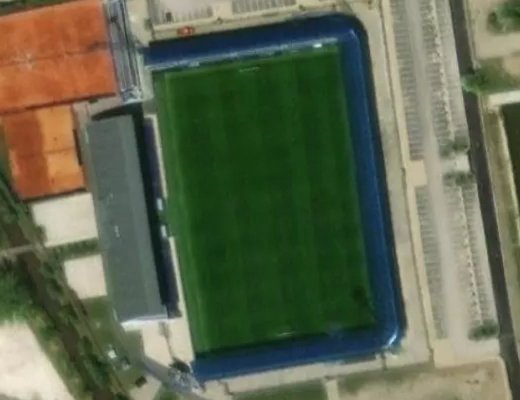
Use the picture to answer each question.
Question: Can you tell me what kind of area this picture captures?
sports ground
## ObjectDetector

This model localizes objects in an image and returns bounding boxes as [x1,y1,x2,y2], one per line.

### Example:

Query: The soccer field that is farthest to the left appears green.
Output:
[150,44,375,356]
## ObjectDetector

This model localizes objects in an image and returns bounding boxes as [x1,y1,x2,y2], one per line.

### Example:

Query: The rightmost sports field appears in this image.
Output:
[494,93,520,288]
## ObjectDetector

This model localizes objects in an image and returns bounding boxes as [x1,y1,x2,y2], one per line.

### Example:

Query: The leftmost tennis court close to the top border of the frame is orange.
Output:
[0,13,30,110]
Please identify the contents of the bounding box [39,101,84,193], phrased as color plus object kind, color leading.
orange tennis court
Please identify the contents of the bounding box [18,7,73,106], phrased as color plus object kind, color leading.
orange tennis court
